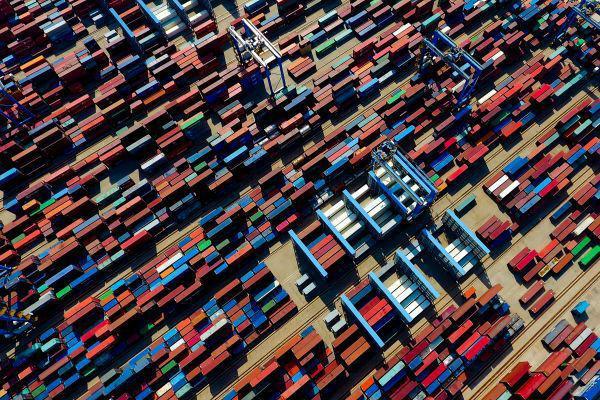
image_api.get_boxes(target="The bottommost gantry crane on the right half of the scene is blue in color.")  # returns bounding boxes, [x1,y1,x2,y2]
[367,139,442,224]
